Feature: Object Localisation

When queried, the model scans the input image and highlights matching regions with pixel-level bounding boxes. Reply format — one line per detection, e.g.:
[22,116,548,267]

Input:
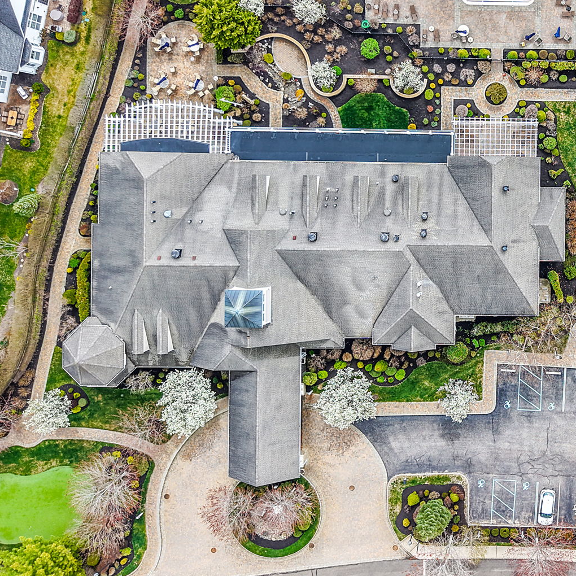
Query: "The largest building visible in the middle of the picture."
[62,125,567,487]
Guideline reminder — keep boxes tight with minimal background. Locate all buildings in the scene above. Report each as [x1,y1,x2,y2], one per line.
[62,125,567,487]
[0,0,50,124]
